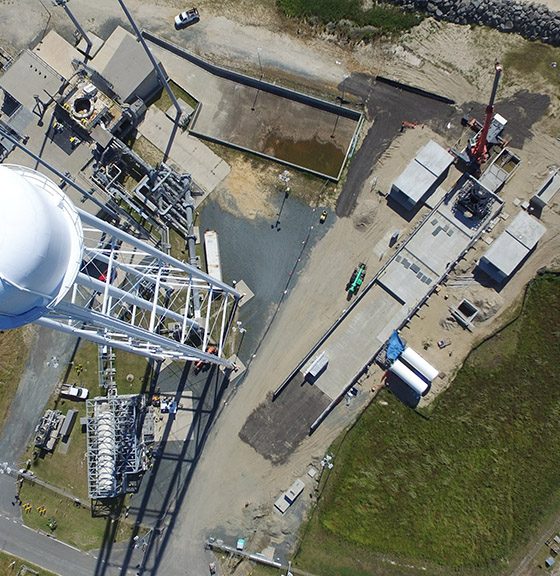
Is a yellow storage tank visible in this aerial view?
No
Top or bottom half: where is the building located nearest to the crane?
top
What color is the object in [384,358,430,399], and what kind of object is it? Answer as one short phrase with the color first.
white storage tank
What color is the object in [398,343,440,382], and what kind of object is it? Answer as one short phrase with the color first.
white storage tank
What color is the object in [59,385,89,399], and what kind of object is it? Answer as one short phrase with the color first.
white vehicle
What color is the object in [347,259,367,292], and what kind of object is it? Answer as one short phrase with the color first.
green work vehicle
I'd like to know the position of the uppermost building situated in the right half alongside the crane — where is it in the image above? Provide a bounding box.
[415,140,454,179]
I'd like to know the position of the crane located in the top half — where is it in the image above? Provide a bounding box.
[454,64,512,170]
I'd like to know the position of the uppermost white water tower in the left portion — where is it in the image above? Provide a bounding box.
[0,165,256,386]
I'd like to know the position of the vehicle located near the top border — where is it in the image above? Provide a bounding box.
[173,5,201,24]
